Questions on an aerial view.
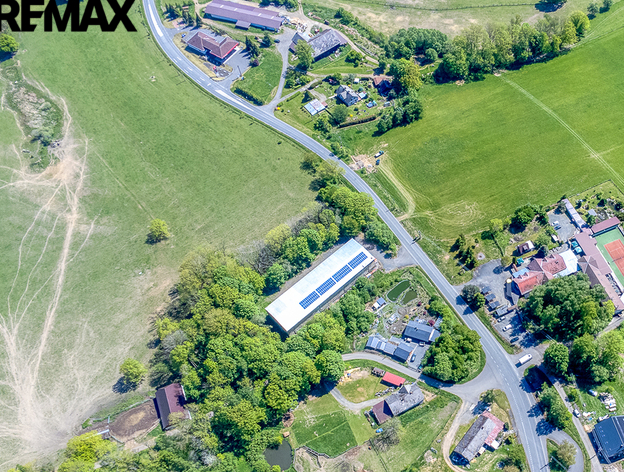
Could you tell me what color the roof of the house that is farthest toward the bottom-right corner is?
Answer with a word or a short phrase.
blue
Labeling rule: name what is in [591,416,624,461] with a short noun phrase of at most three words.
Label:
house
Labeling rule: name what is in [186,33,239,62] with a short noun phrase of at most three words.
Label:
building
